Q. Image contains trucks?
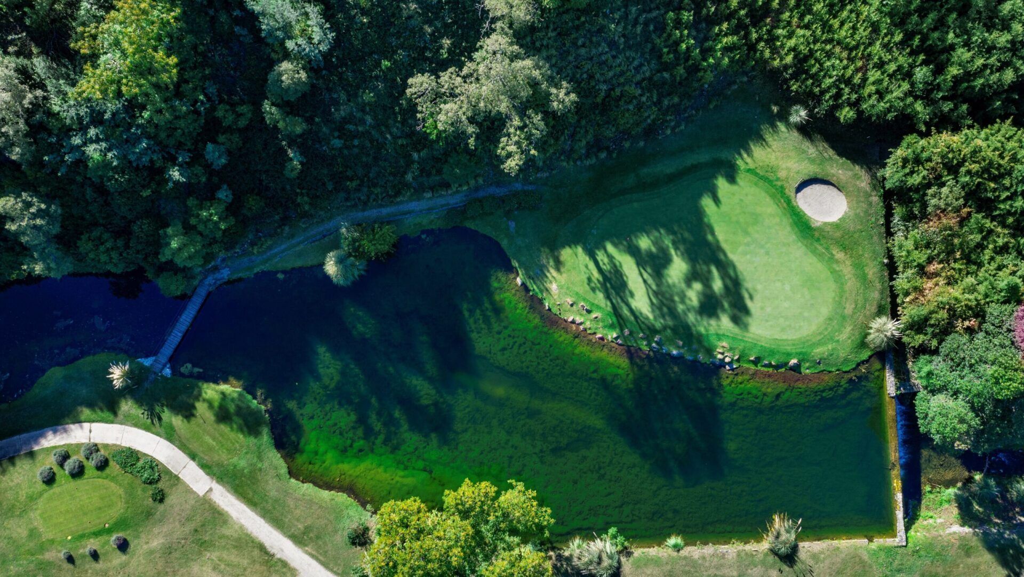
No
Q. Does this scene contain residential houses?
No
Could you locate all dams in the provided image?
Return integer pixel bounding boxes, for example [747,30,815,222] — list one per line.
[883,347,906,546]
